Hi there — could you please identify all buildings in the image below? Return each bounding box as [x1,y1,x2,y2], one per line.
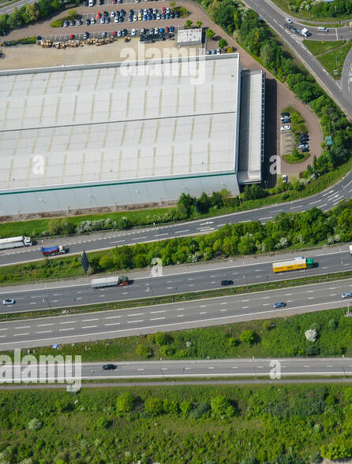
[178,27,203,47]
[0,52,241,212]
